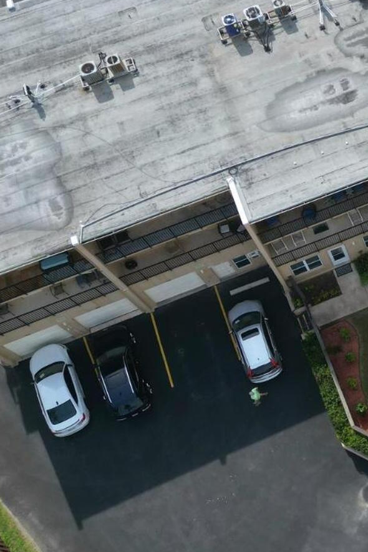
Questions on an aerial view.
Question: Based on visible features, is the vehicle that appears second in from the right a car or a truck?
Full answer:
I'd identify the vehicle that appears second in from the right as a car.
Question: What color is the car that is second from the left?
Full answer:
The car that is second from the left looks black in the image.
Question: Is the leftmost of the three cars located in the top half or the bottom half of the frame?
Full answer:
The leftmost of the three cars sits in the bottom half of the picture.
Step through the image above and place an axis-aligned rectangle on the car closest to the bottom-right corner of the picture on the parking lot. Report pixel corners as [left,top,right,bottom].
[230,296,283,390]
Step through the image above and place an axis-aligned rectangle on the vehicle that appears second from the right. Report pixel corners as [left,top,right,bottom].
[93,328,150,425]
